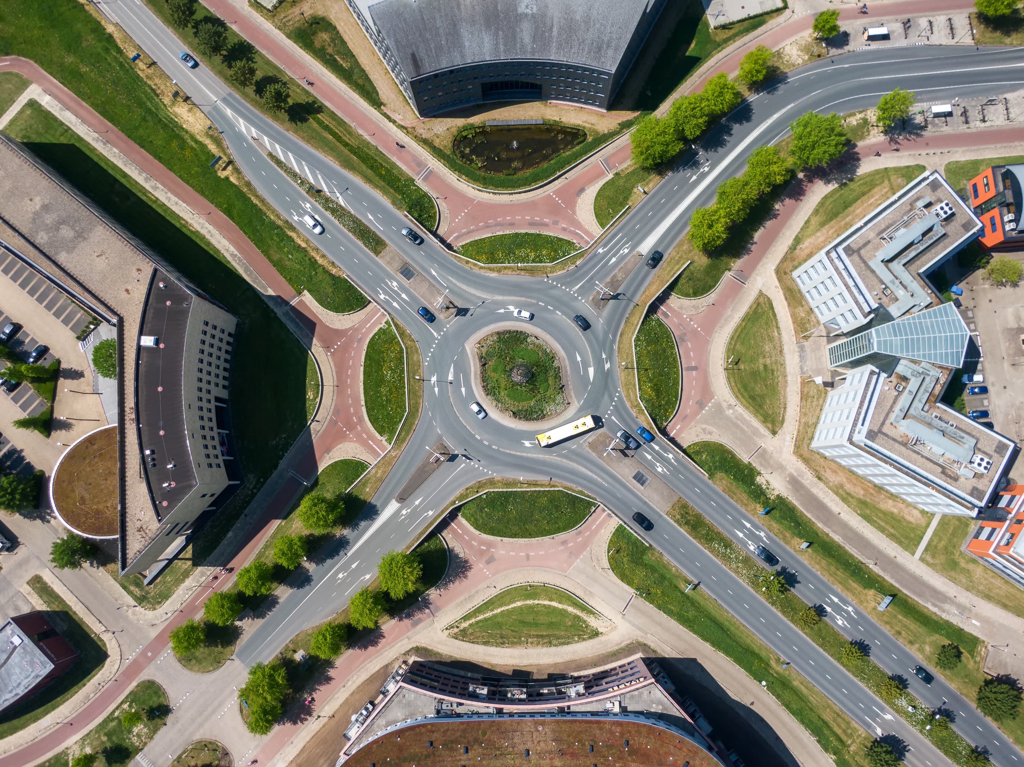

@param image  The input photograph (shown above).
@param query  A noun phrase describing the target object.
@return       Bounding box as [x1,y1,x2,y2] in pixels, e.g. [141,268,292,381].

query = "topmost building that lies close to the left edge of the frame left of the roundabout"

[0,132,241,586]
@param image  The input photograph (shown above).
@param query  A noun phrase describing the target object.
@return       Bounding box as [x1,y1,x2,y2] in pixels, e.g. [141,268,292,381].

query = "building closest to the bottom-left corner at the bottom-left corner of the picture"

[0,611,81,721]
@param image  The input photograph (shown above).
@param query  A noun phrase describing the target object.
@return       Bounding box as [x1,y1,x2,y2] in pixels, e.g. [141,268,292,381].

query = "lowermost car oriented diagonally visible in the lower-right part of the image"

[912,664,936,686]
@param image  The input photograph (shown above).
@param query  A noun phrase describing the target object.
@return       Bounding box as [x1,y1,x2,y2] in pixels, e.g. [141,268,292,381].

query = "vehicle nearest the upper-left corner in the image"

[180,50,197,69]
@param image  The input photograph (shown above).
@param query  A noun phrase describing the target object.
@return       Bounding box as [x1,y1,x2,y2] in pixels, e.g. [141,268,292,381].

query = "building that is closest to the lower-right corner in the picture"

[966,464,1024,589]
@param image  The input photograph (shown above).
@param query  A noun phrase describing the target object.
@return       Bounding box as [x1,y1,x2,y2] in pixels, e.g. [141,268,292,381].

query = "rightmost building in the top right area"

[971,162,1024,251]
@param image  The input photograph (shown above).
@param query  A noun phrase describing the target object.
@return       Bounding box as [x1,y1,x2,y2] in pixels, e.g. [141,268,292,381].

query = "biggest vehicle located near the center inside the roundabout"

[535,411,598,446]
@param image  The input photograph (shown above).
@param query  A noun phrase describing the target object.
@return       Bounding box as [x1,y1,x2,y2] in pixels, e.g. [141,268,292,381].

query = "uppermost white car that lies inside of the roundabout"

[512,308,534,322]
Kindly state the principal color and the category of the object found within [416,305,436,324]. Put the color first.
blue car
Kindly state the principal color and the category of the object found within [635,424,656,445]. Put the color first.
blue car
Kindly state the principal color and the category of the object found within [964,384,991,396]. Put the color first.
blue vehicle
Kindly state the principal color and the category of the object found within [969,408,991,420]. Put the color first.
blue vehicle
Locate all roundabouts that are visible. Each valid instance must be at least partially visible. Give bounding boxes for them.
[418,277,625,484]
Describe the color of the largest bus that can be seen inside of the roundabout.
white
